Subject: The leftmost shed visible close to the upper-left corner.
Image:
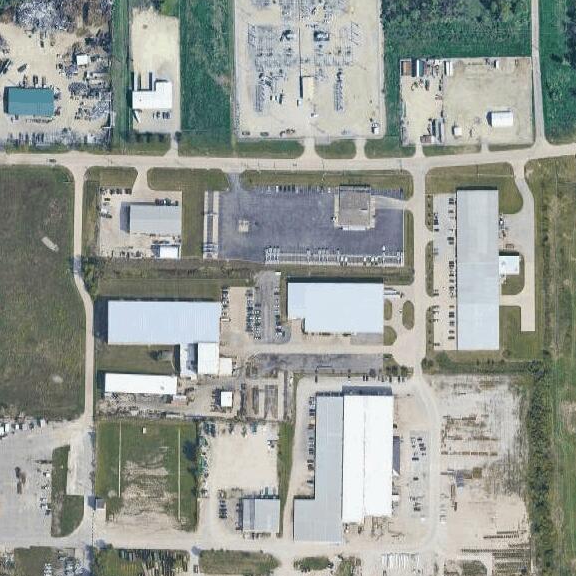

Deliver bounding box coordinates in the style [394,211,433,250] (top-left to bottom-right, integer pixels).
[7,87,54,115]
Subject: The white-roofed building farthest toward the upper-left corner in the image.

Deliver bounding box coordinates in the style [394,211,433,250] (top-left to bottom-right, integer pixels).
[132,82,171,108]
